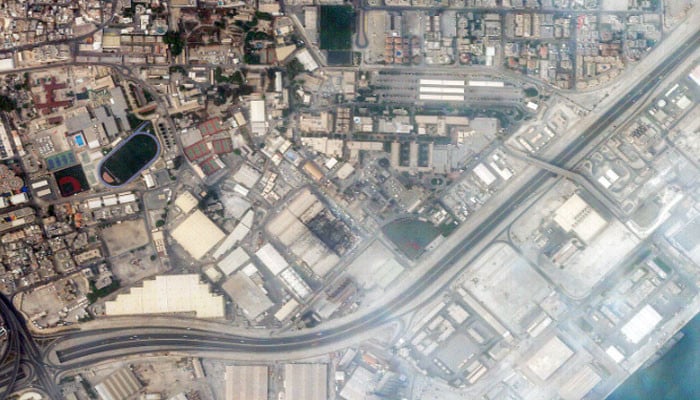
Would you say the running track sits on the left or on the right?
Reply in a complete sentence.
The running track appears in the left half of the scene.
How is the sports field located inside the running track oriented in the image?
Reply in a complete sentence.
I'd say the sports field located inside the running track is aligned at an angle in the picture.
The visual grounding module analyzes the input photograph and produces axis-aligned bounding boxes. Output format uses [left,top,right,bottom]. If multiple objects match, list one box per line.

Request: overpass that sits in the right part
[501,142,643,240]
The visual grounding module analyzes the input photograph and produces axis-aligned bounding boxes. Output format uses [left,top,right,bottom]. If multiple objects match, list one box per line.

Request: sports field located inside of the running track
[100,134,158,185]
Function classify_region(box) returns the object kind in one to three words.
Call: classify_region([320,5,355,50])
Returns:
soccer field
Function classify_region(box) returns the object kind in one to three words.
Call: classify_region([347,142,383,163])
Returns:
building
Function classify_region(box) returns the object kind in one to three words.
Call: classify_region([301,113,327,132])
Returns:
building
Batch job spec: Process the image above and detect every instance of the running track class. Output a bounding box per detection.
[98,120,160,187]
